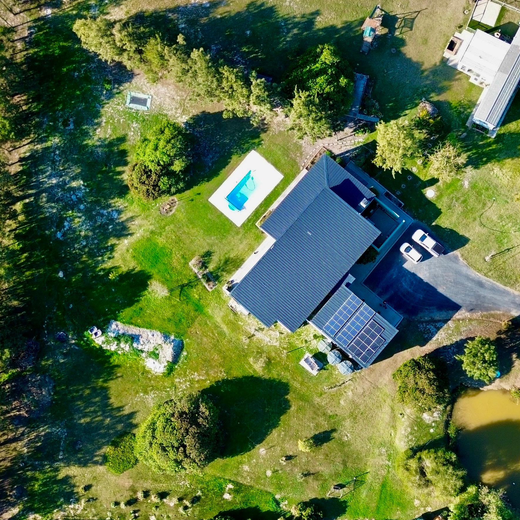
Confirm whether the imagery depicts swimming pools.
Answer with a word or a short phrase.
Yes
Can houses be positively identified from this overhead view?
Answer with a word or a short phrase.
Yes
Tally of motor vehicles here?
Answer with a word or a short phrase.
2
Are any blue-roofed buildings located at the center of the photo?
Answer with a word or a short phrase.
Yes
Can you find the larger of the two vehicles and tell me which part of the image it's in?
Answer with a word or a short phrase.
right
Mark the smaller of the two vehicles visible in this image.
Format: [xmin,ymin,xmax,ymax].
[398,241,424,266]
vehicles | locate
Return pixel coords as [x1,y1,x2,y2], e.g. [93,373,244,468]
[398,241,424,266]
[412,228,445,262]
